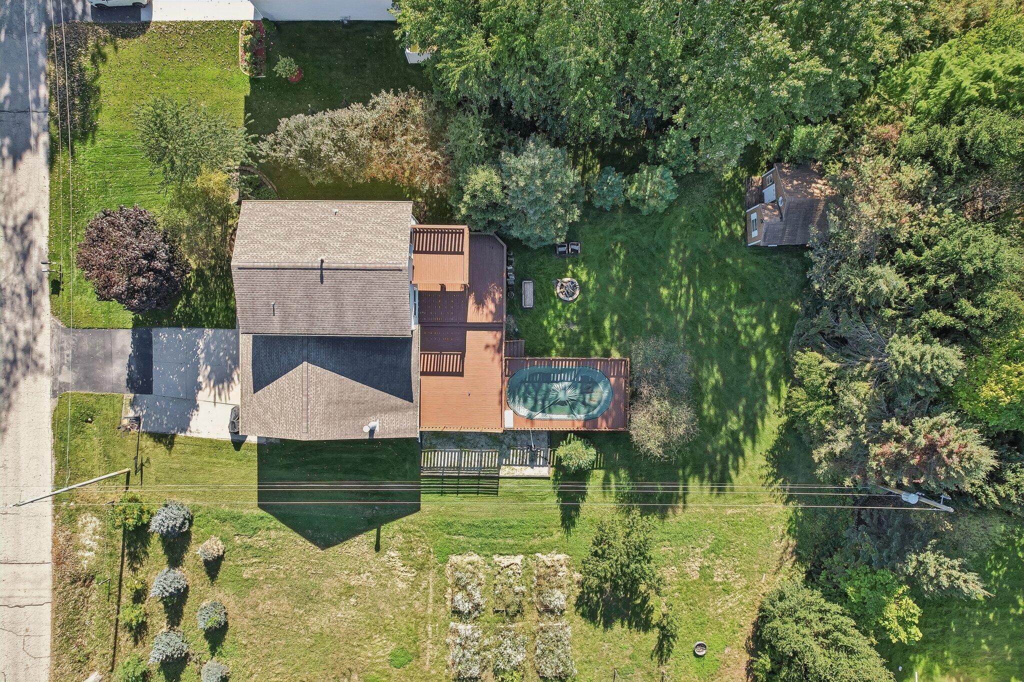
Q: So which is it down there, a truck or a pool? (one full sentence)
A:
There is a pool in the scene.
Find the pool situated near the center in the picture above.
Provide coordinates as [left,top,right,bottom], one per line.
[506,366,612,421]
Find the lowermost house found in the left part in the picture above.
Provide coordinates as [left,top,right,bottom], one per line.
[231,199,423,442]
